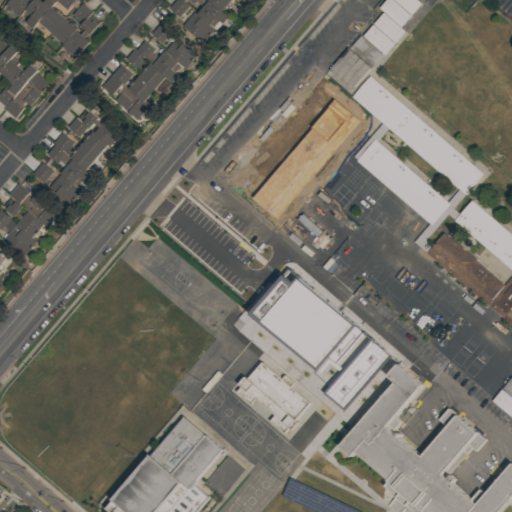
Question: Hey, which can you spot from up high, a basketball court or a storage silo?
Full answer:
The image shows a basketball court.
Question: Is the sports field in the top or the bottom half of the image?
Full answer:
It is in the bottom half that the sports field appears.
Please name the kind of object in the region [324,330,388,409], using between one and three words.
building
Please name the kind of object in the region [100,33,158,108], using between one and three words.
house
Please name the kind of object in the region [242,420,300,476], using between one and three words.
basketball court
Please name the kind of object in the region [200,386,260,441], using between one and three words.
basketball court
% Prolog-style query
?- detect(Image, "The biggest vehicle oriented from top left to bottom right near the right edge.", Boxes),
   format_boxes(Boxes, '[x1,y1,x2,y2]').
[491,319,510,336]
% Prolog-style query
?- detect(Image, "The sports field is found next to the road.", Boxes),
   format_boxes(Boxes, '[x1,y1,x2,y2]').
[0,264,216,512]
